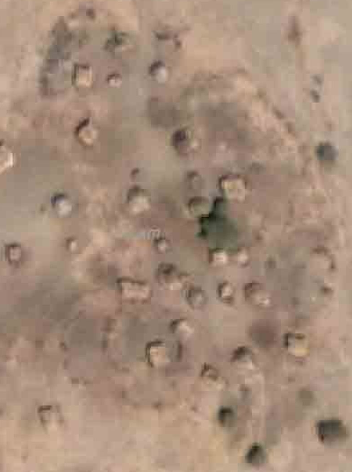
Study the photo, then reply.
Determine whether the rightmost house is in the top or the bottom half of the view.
bottom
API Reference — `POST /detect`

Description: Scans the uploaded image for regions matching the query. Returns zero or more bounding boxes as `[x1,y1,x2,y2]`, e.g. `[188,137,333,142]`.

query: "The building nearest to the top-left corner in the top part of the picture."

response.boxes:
[78,69,96,89]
